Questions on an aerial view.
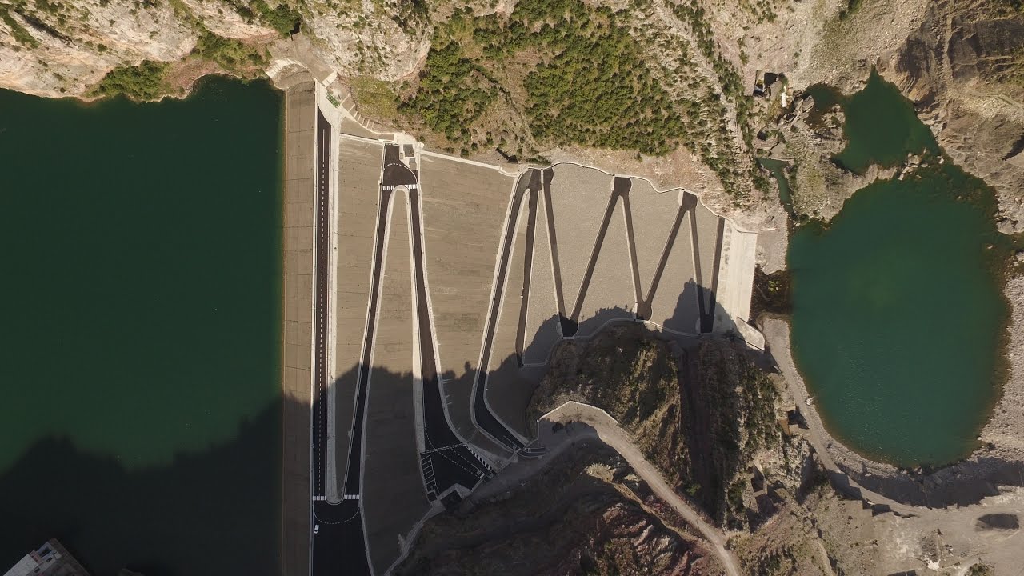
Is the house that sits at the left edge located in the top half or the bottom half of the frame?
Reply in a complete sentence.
The house that sits at the left edge is in the bottom half of the image.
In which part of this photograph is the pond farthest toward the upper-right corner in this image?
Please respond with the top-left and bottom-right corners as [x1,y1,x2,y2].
[794,81,1000,460]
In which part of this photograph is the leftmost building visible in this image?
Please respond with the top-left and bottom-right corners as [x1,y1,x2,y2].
[1,534,101,576]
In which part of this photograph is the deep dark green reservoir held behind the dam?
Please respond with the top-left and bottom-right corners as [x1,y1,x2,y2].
[0,77,283,576]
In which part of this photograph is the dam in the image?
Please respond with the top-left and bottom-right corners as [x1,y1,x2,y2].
[272,78,765,576]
